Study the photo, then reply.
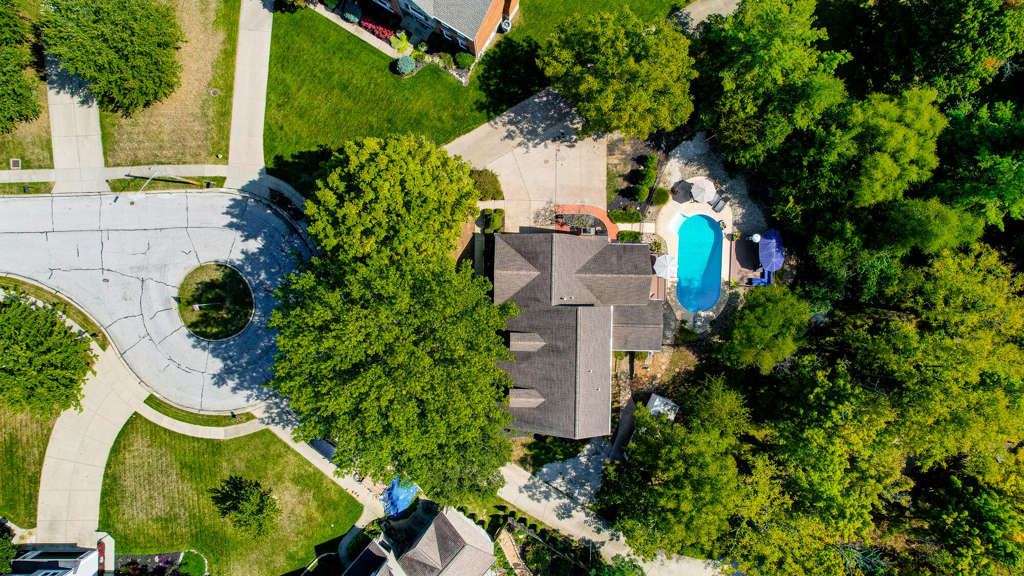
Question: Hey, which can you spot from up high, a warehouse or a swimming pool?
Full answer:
There is a swimming pool in the scene.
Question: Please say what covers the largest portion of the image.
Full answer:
The largest share of the image is taken up by trees.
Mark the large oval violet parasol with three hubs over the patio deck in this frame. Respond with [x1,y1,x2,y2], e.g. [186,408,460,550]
[760,229,785,291]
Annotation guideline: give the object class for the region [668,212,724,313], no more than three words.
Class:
swimming pool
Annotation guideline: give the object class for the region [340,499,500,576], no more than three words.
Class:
house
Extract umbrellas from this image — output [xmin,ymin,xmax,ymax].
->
[760,229,785,291]
[690,178,716,204]
[652,254,678,280]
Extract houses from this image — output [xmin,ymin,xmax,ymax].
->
[485,226,663,440]
[363,0,517,58]
[340,499,500,576]
[0,550,98,576]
